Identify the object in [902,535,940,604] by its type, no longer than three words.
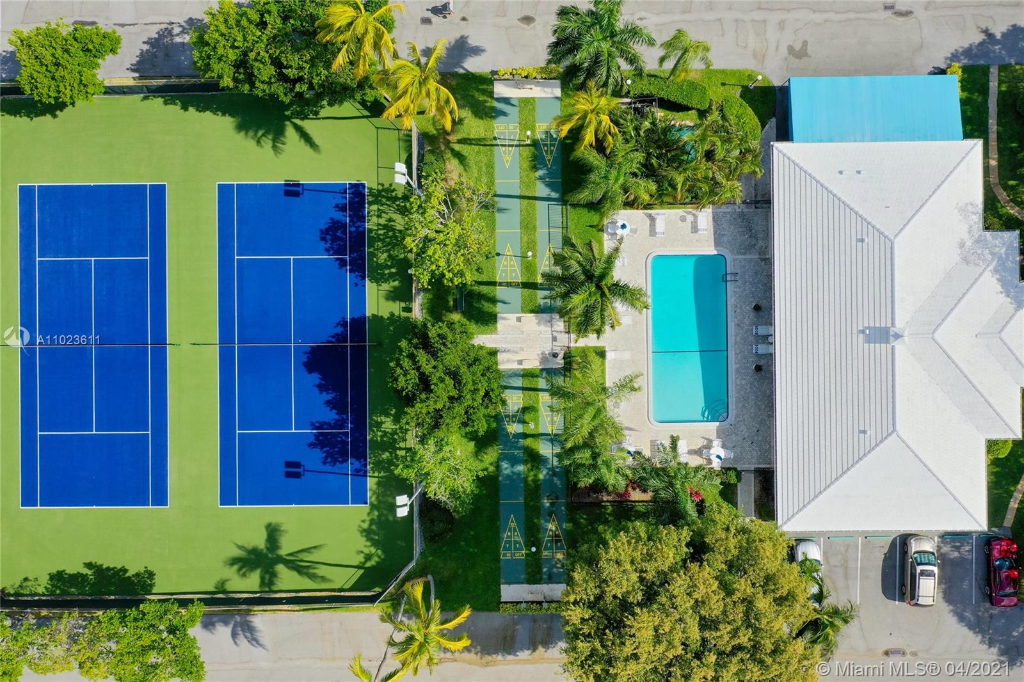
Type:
car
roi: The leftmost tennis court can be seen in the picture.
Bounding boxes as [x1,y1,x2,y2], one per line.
[17,183,170,508]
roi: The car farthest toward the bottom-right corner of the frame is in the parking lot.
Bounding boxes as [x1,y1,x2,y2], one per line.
[984,536,1022,606]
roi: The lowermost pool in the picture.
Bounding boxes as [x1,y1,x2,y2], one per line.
[644,247,736,430]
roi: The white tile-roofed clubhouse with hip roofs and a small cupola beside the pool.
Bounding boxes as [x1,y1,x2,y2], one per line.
[769,138,1024,534]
